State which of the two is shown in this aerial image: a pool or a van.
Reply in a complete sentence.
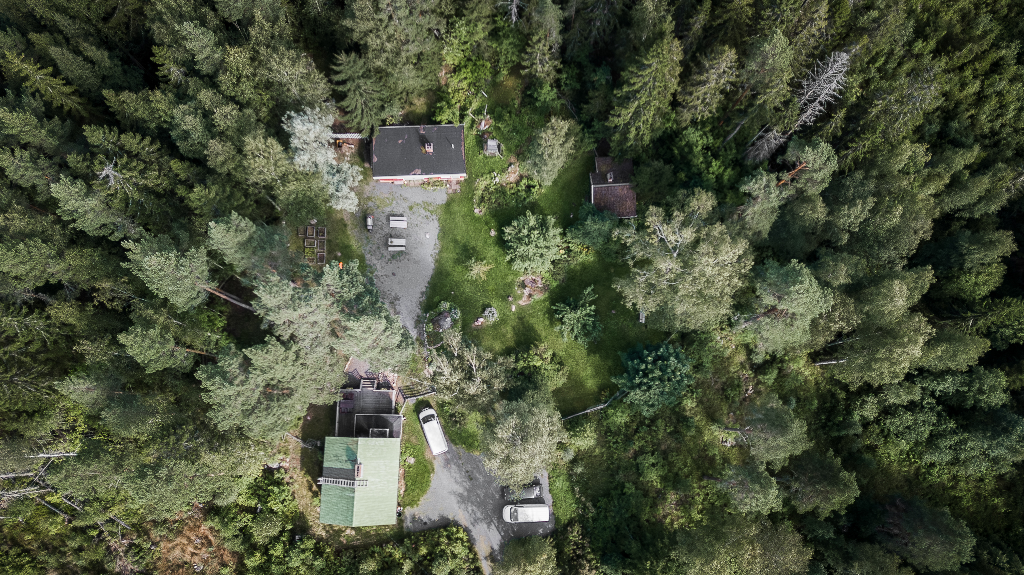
The image shows a van.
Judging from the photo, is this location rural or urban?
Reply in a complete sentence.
The area shown here is rural.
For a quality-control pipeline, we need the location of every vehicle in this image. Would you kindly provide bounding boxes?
[418,407,449,458]
[501,503,550,527]
[504,483,545,504]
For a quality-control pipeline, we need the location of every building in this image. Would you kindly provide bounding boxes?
[373,124,467,185]
[486,140,505,161]
[319,437,403,527]
[590,156,638,219]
